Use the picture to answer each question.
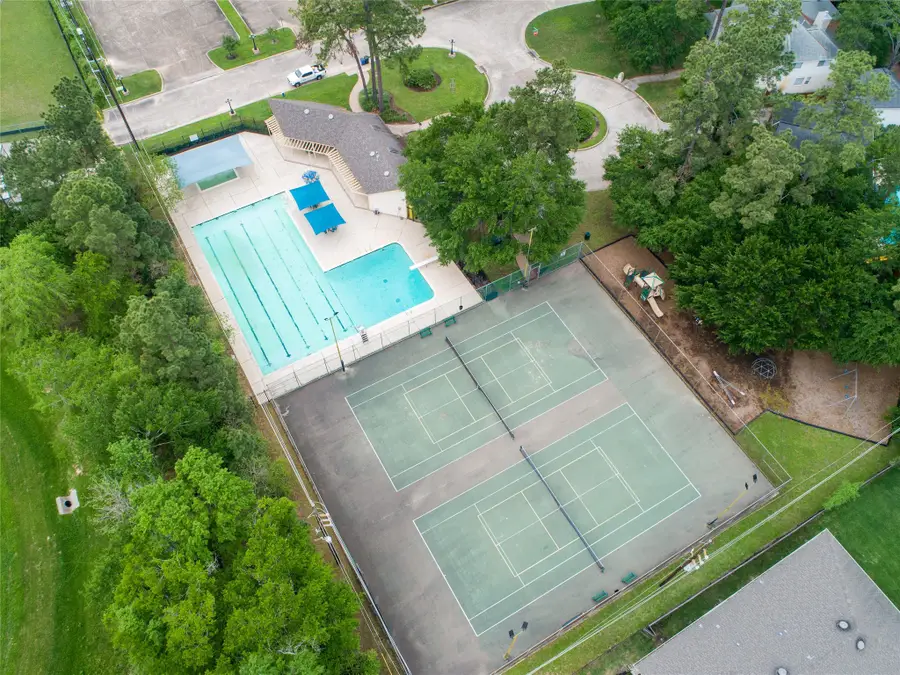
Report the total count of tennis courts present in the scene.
2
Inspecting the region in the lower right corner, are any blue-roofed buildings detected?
No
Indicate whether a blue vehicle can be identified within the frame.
No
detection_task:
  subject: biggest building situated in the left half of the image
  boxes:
[260,98,420,221]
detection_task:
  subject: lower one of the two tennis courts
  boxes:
[413,402,702,636]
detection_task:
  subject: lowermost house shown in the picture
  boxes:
[628,532,900,675]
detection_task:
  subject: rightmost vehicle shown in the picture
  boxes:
[284,61,329,85]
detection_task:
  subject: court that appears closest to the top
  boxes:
[345,301,608,492]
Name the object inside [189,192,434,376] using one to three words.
swimming pool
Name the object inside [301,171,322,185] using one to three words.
umbrella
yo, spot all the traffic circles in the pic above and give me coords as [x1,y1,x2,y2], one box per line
[555,105,606,152]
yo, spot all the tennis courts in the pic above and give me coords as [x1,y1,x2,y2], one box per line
[345,301,608,492]
[413,402,702,636]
